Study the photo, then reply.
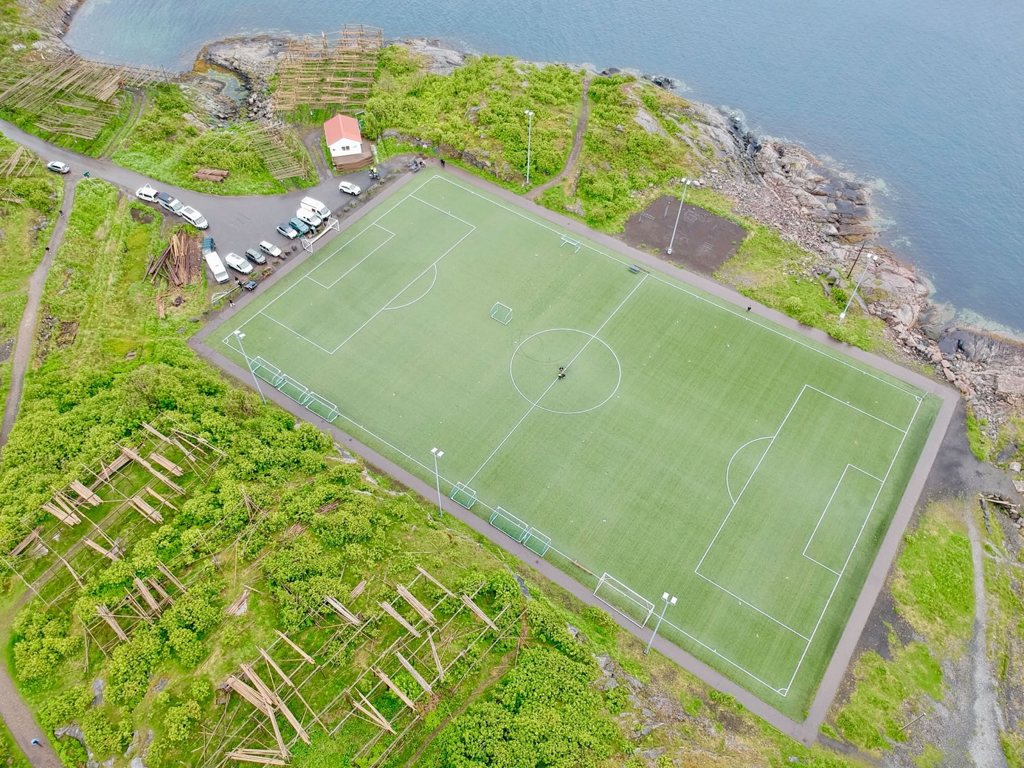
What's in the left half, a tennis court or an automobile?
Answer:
automobile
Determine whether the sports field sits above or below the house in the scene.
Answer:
below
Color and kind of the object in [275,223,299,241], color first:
white car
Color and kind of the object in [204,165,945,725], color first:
green sports field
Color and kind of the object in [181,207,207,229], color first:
white vehicle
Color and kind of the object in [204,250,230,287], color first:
white camper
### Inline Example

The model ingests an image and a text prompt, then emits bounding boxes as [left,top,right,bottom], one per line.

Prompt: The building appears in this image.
[325,113,376,170]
